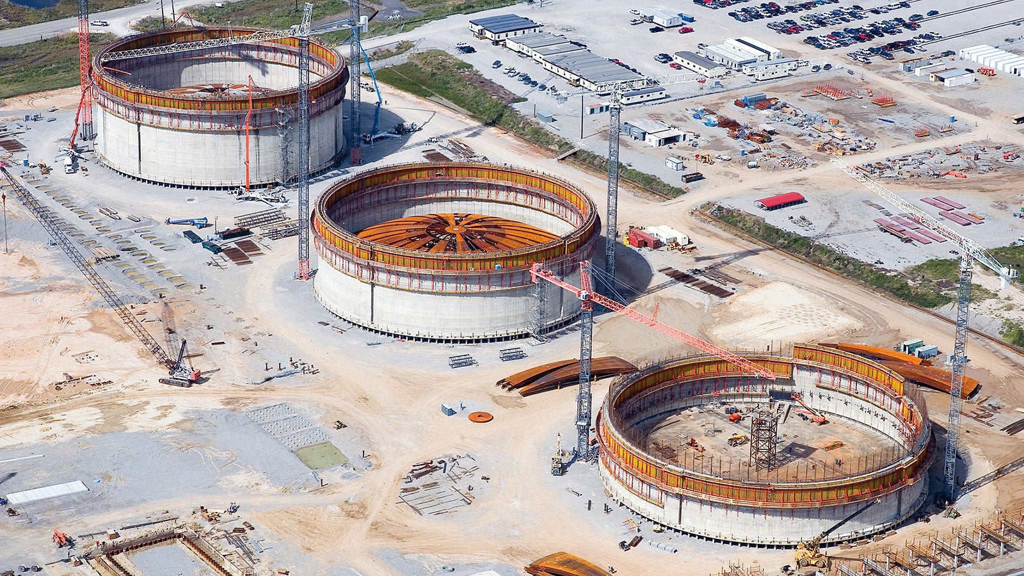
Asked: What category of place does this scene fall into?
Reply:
industrial area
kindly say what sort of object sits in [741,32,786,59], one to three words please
shed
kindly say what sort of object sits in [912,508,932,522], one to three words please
work vehicle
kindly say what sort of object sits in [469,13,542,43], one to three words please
trailer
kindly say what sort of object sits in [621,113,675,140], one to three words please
building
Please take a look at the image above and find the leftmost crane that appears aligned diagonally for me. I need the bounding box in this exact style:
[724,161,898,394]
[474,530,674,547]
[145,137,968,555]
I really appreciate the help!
[0,151,205,383]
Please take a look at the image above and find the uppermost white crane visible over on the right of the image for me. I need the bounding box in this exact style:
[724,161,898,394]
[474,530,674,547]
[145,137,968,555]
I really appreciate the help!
[554,57,826,296]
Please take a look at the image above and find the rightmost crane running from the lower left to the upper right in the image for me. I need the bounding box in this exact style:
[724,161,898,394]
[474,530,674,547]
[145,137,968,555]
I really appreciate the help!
[793,500,880,570]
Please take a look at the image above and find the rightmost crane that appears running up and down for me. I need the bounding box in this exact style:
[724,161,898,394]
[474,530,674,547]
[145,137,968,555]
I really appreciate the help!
[829,159,1020,505]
